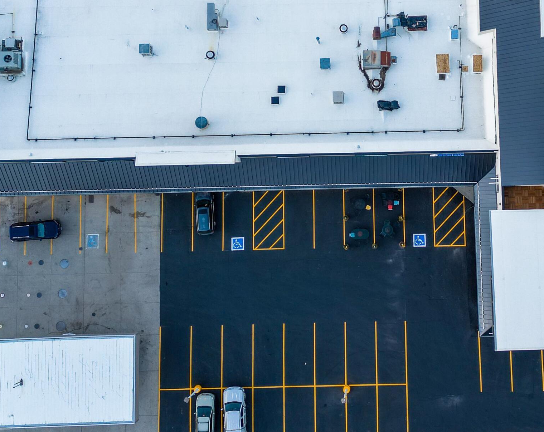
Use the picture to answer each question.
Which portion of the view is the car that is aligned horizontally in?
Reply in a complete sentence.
The car that is aligned horizontally is in the left part of the image.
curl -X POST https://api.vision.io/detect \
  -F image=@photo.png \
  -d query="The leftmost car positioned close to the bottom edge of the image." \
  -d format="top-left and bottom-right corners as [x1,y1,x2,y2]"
[192,388,218,432]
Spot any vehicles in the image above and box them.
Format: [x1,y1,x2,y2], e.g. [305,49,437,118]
[192,388,218,432]
[7,216,66,243]
[192,193,219,238]
[219,382,248,432]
